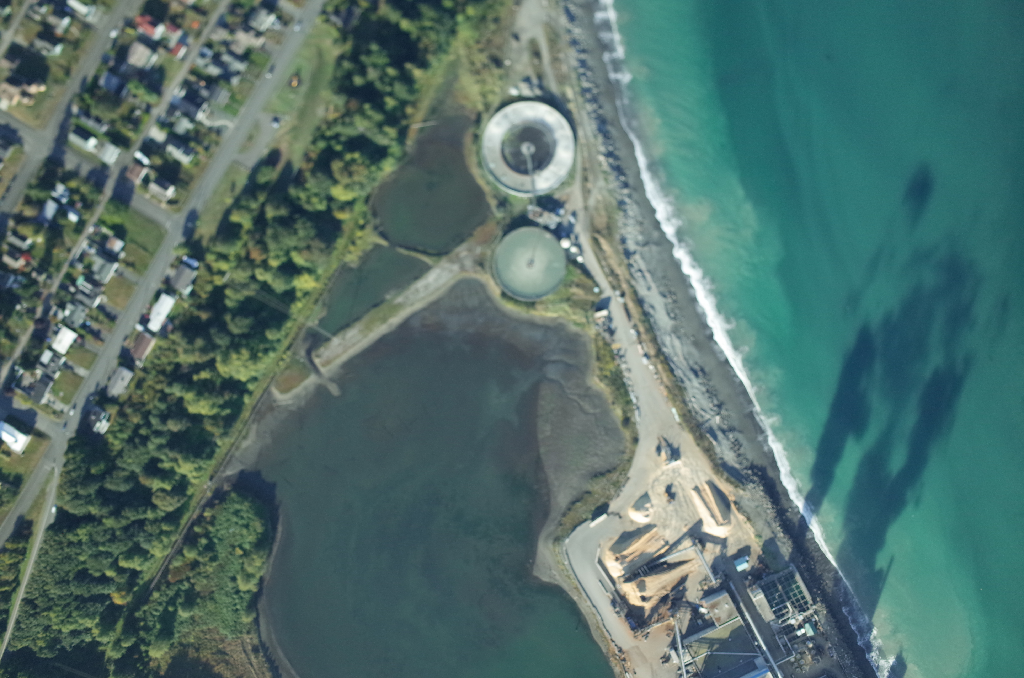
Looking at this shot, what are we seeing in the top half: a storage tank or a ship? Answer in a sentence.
The feature located in the top half is a storage tank.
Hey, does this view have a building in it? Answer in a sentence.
Yes, a building can be made out from above.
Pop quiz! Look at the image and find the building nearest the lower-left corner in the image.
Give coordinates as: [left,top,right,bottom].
[0,422,35,453]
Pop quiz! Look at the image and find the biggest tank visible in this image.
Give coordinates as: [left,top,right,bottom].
[482,102,576,206]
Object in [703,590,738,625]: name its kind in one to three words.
building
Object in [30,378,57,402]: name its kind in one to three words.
house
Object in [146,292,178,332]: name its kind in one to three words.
house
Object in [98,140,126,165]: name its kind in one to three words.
building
